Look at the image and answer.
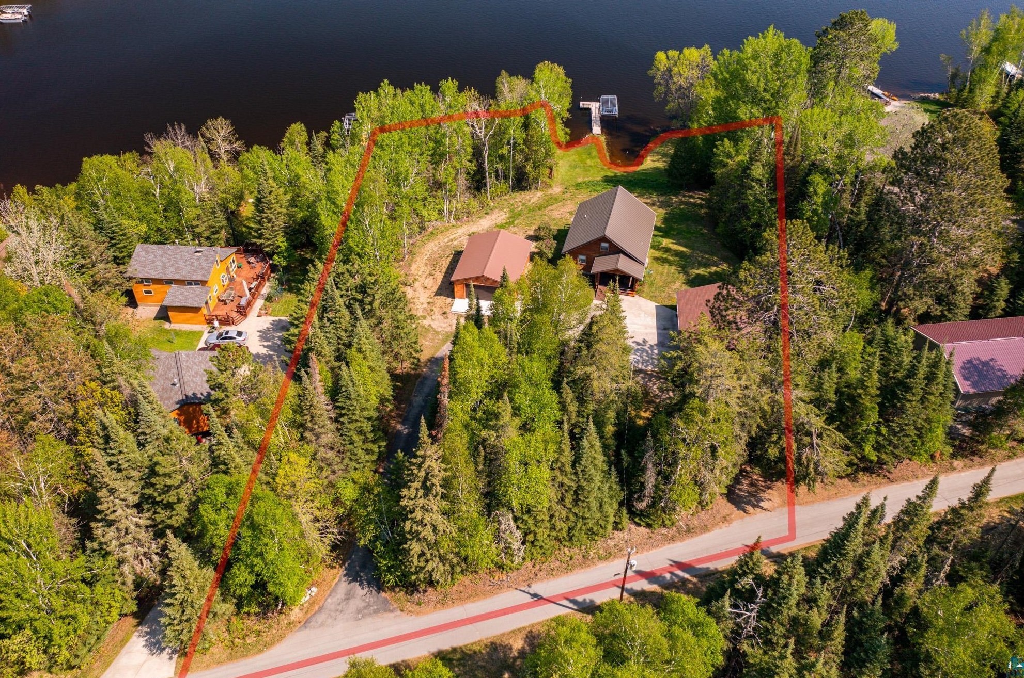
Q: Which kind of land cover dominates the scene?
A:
trees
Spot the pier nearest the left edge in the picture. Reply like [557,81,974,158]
[578,95,603,136]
